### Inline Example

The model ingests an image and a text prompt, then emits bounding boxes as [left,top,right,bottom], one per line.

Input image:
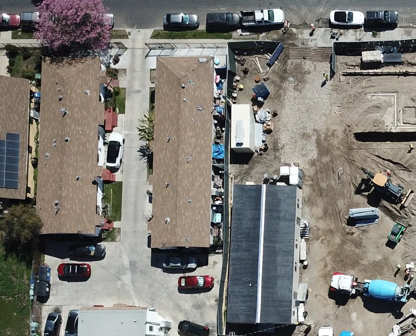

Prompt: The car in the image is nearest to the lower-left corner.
[44,312,64,336]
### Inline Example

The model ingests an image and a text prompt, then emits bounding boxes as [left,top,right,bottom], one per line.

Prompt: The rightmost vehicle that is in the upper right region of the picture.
[366,10,399,28]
